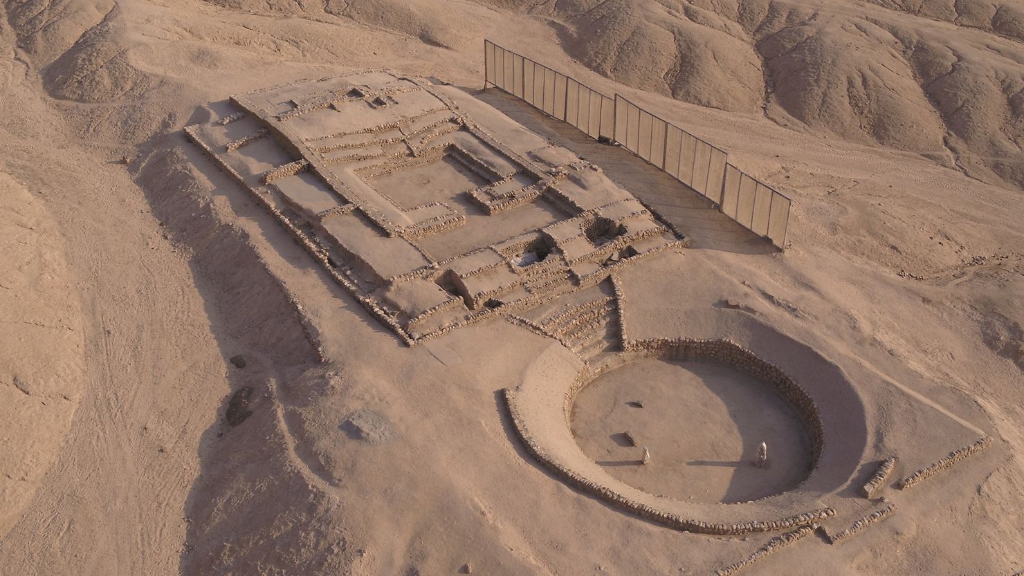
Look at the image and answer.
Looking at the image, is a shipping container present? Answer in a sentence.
No, the picture doesn't show any shipping container.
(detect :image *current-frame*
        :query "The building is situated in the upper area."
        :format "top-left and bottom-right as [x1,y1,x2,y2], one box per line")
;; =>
[183,70,690,352]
